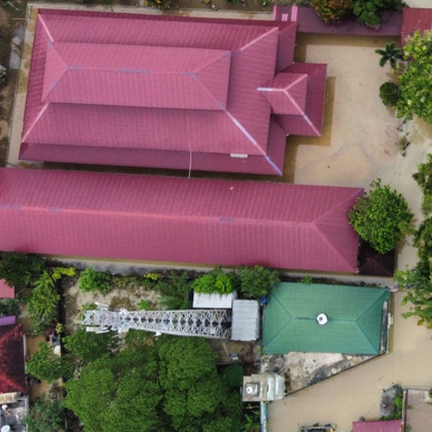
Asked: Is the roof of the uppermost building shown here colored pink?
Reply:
Yes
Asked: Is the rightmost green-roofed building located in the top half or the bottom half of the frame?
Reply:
bottom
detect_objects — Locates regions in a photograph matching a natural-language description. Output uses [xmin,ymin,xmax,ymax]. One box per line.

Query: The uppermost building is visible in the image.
[19,8,327,177]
